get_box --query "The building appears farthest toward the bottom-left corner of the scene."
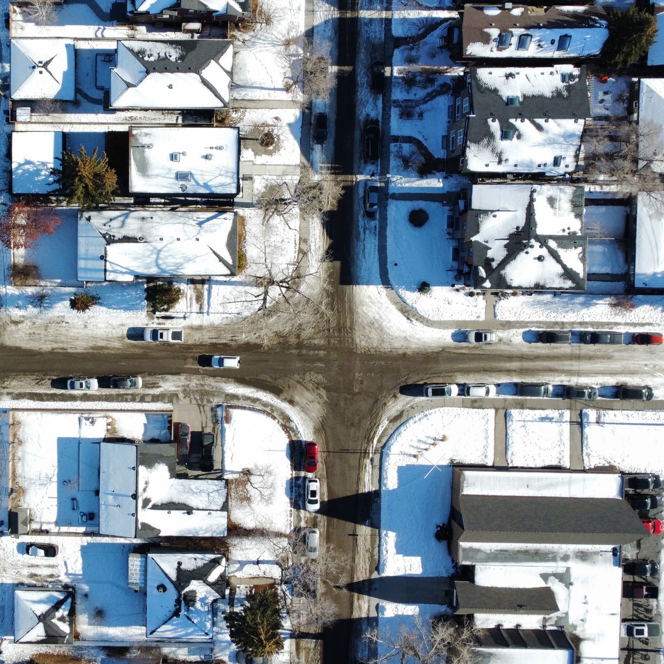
[14,585,74,643]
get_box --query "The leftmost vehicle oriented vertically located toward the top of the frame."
[314,113,329,144]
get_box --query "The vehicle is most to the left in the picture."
[28,541,59,558]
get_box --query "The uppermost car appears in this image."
[369,60,386,95]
